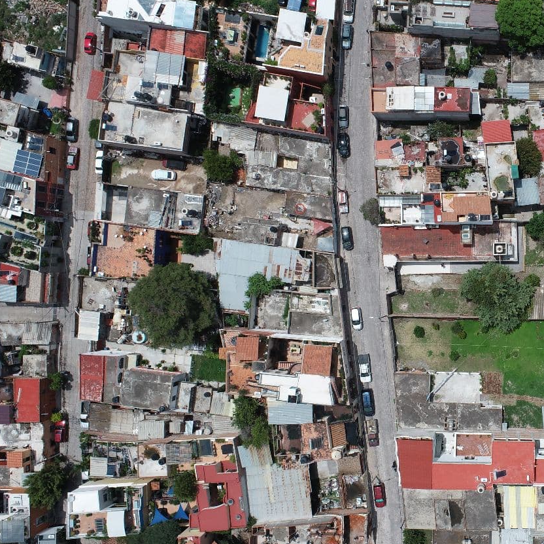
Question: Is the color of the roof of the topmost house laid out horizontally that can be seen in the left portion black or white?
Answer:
white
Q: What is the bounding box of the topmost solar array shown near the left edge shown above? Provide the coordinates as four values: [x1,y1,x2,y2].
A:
[13,149,43,178]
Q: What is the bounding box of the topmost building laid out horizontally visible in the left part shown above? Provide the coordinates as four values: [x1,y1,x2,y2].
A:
[96,0,213,35]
